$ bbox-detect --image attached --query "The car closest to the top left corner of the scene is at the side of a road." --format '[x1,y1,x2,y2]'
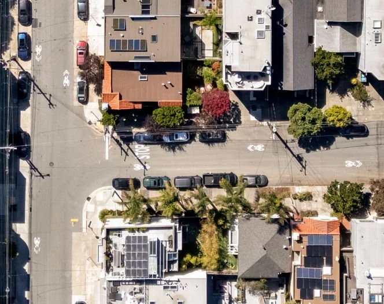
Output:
[19,0,31,25]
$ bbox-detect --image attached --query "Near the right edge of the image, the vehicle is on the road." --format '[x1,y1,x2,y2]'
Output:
[341,125,368,138]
